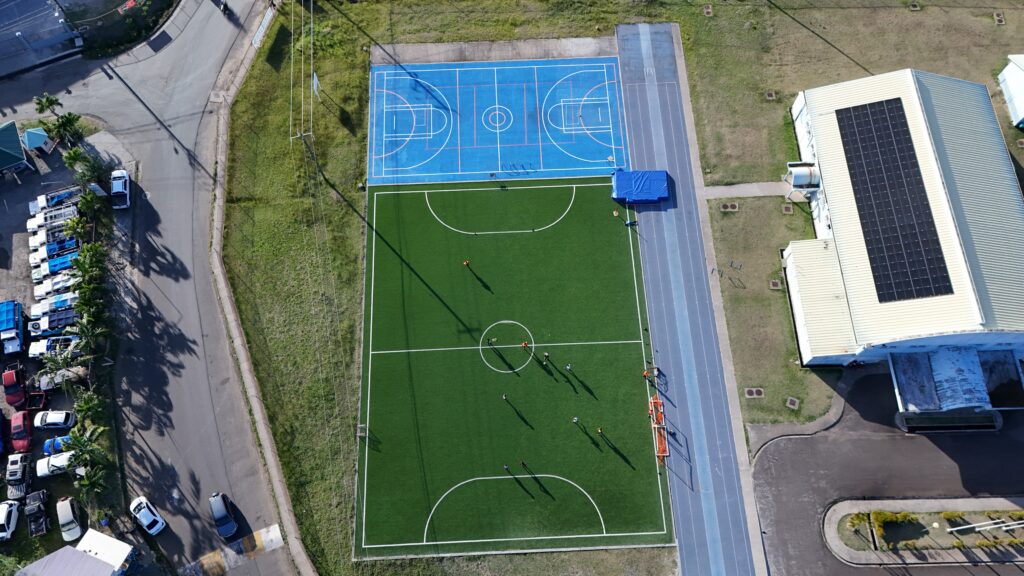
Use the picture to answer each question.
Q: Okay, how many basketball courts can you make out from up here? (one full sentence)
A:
In total, there is 1 basketball court in the scene.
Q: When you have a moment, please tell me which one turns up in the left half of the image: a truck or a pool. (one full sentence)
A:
You can see a truck in the left half of the image.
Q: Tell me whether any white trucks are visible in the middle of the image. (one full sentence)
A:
No, I can find no white truck in the middle of the image.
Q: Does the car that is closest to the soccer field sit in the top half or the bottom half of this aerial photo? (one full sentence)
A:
The bottom half of the photo is where the car that is closest to the soccer field is.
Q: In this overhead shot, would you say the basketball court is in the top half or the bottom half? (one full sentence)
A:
You can find the basketball court in the top half.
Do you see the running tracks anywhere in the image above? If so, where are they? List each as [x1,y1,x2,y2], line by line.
[615,22,771,576]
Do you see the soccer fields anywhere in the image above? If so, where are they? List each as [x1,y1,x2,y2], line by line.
[351,177,678,560]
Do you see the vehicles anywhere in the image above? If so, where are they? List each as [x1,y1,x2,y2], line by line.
[29,223,69,251]
[55,494,86,545]
[9,410,35,453]
[31,251,84,285]
[44,434,73,456]
[28,307,84,338]
[38,449,75,475]
[30,237,84,269]
[31,290,84,320]
[27,200,83,235]
[29,182,90,219]
[0,296,30,360]
[0,410,12,453]
[20,486,54,542]
[1,365,31,408]
[131,493,166,537]
[4,451,34,500]
[29,334,82,361]
[208,490,239,539]
[109,169,133,212]
[34,410,79,430]
[0,499,24,542]
[34,269,85,300]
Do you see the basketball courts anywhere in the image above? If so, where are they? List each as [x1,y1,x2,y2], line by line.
[366,36,633,186]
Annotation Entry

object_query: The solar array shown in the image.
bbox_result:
[819,99,955,303]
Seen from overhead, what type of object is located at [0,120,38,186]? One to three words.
building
